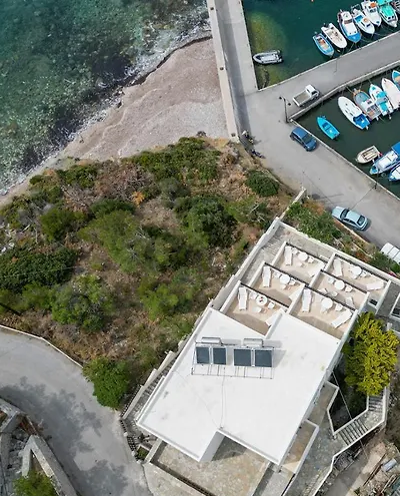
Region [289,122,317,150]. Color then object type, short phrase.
blue car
